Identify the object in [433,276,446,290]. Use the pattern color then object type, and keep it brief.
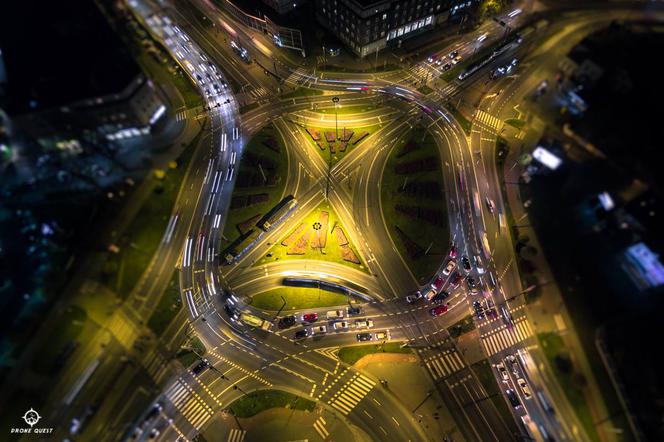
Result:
red vehicle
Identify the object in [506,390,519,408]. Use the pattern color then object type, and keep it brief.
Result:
black vehicle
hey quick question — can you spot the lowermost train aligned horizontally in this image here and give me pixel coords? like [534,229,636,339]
[282,275,371,301]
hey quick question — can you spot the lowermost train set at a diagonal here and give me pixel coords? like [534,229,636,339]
[227,194,300,264]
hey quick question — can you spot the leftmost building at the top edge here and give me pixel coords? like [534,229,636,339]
[0,0,164,164]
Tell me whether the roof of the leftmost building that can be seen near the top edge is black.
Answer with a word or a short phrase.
Yes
